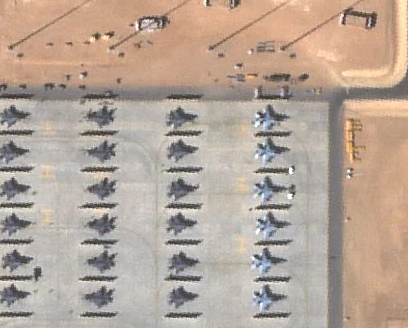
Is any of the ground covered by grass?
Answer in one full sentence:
No, there's no grass in this view.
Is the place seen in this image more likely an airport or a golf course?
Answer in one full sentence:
This image shows an airport.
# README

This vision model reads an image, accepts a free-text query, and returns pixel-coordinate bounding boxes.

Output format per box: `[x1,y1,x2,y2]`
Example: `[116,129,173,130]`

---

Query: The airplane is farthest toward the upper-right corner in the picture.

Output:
[254,108,286,130]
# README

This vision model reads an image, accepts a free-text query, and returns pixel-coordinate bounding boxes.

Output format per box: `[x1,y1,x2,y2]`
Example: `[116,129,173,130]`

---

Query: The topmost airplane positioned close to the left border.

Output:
[0,109,26,126]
